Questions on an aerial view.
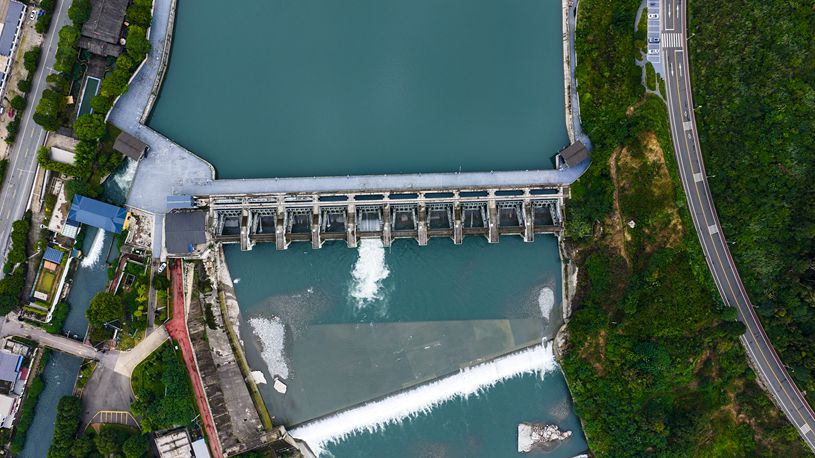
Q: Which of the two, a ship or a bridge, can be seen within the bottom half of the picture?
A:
bridge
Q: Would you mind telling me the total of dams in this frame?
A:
2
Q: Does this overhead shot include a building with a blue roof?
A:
Yes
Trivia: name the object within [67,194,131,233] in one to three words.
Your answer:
building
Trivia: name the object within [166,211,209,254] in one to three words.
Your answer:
building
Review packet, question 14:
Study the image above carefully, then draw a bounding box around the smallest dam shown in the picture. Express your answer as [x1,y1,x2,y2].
[289,342,557,433]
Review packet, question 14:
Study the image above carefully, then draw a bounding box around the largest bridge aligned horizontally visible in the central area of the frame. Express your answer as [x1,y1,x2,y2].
[190,171,562,197]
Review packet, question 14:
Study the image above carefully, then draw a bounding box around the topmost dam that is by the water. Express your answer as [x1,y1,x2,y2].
[208,186,568,250]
